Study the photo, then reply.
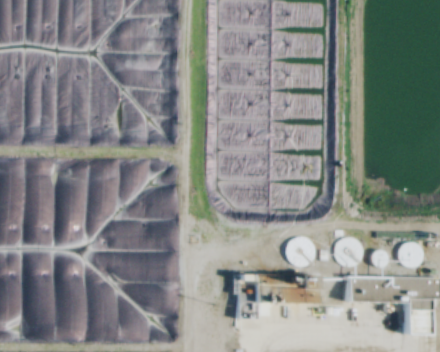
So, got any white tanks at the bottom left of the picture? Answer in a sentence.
No, no white tank can be made out at the bottom left of the picture.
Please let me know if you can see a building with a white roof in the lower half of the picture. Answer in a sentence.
Yes, the scene does show a building with a white roof in the lower half of the picture.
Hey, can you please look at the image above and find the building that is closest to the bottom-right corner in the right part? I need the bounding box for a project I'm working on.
[400,302,436,335]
